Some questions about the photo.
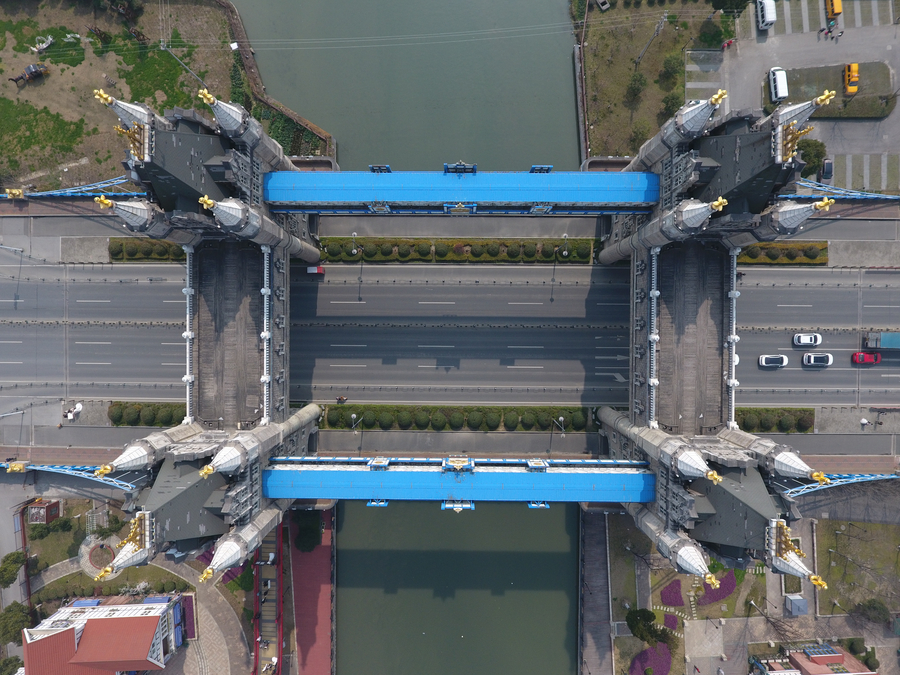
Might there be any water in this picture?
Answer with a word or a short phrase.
Yes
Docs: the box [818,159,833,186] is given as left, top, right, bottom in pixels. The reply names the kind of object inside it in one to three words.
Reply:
car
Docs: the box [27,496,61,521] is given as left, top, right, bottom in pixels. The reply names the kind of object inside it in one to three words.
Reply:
shed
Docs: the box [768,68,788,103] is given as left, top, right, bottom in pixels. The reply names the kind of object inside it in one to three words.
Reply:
vehicle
